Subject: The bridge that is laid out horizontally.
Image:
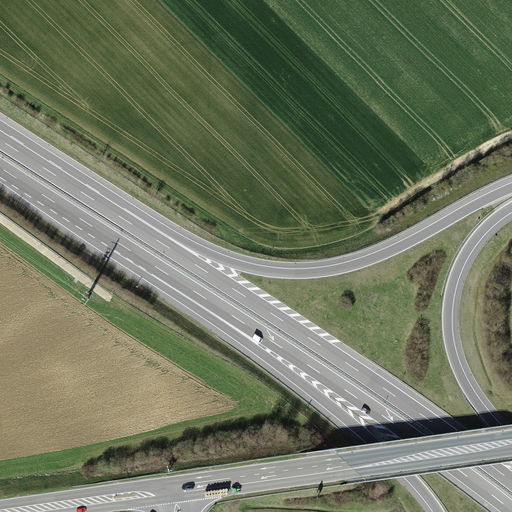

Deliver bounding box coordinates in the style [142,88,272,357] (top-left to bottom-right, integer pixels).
[329,426,512,484]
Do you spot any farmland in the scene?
Yes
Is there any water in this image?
No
